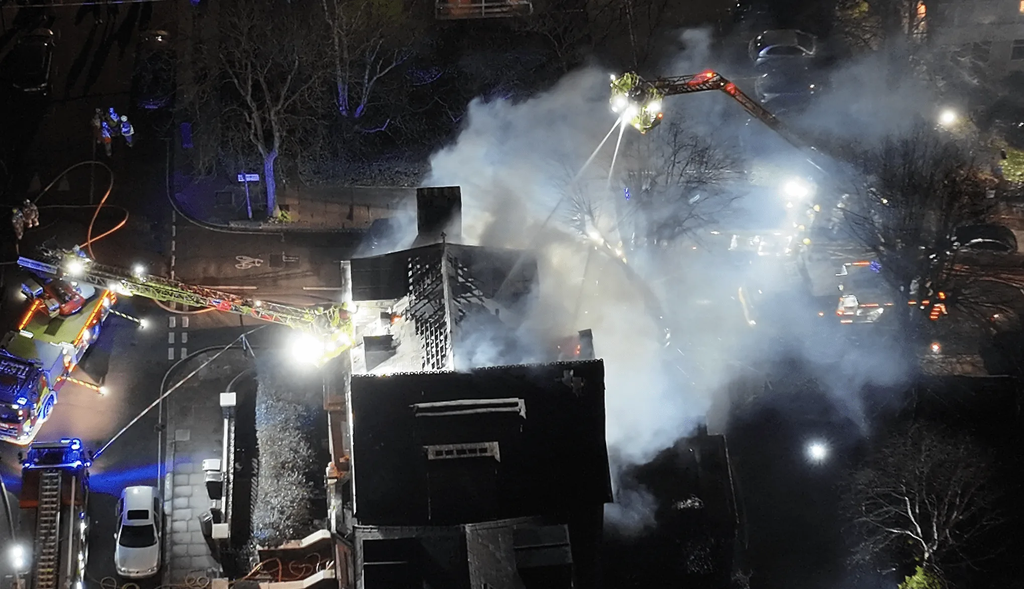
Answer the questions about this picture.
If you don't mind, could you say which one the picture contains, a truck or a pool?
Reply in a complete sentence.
The image shows a truck.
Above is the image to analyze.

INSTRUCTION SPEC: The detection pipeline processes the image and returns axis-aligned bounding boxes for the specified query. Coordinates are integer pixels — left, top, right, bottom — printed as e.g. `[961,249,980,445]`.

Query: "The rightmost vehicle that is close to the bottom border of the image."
[108,484,169,582]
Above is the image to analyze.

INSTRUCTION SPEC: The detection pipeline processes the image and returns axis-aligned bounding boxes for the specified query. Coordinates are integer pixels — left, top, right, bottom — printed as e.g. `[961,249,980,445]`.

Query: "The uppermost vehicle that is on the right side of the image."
[745,30,820,69]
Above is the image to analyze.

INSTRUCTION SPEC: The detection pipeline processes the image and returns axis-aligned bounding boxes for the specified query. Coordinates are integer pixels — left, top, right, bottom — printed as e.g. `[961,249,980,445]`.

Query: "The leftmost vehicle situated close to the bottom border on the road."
[12,435,105,589]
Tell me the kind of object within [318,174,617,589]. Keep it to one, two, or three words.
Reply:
house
